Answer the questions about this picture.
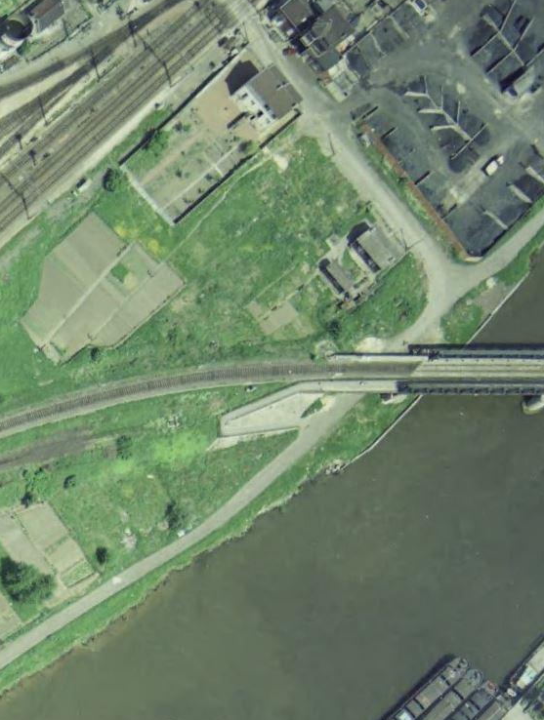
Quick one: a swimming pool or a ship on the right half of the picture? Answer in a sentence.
The feature located on the right half of the picture is a ship.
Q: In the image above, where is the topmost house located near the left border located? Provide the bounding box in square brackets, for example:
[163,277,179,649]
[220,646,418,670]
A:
[23,0,68,37]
